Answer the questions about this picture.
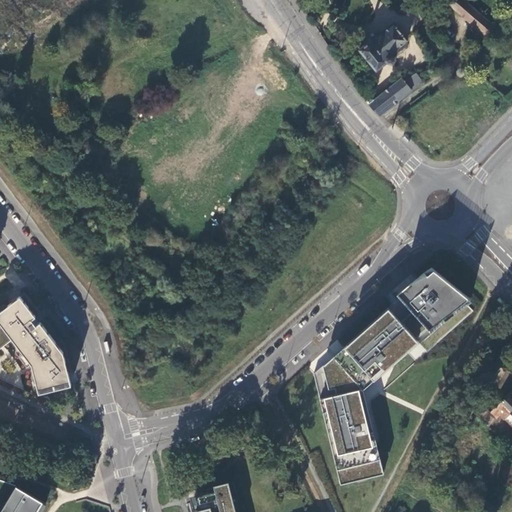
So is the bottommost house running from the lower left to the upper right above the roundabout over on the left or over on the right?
right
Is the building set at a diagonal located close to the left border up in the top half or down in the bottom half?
bottom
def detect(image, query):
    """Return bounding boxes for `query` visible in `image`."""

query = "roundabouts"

[390,154,491,256]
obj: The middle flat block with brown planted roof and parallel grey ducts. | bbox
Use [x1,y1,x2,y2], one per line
[344,311,418,380]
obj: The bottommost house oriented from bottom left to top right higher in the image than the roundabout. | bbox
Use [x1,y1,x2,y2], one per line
[368,73,422,116]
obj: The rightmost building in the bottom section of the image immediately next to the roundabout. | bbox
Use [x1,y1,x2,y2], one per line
[396,270,474,351]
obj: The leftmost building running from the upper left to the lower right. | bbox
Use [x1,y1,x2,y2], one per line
[0,298,71,396]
